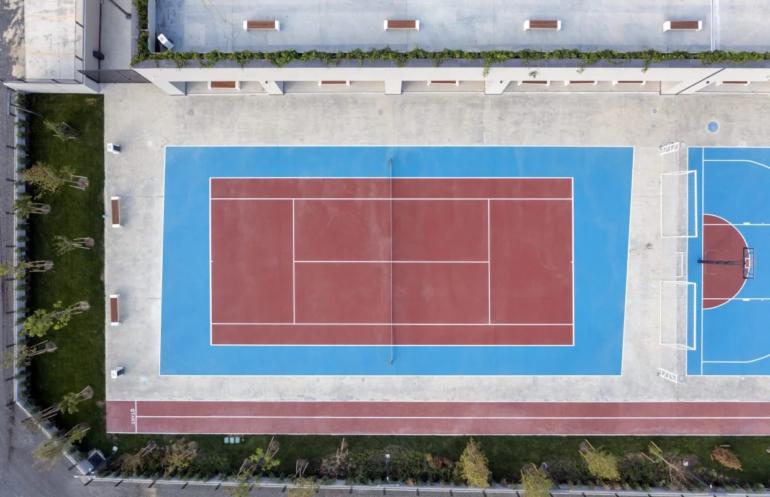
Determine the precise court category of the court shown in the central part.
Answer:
tennis court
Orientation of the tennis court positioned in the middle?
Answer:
from left to right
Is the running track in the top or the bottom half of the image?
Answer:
bottom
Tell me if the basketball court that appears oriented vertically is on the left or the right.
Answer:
right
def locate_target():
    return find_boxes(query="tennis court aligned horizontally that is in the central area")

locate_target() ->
[159,146,634,376]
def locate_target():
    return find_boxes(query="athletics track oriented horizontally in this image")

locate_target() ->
[107,401,770,436]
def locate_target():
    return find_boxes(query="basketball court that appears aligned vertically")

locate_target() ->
[676,147,770,377]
